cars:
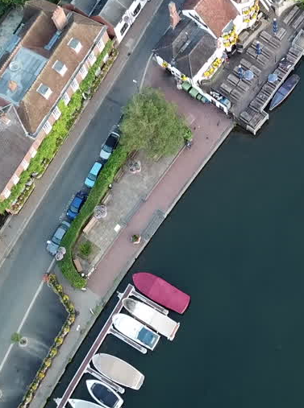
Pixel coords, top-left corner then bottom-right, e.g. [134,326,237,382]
[44,220,70,253]
[82,159,104,187]
[97,129,119,159]
[62,188,88,221]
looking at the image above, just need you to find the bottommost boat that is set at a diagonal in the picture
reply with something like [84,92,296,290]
[86,380,125,408]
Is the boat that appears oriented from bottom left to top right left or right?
right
